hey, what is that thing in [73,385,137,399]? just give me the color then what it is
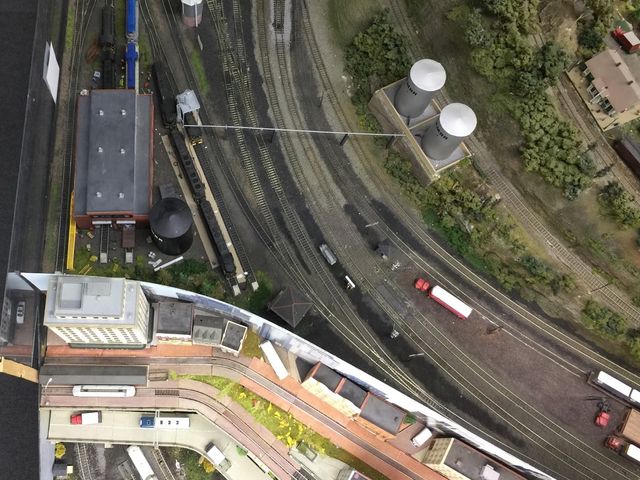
white train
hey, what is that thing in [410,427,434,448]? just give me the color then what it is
white vehicle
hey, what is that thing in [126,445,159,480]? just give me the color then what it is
white rail car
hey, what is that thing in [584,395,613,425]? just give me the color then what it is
red truck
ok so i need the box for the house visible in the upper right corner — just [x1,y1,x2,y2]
[580,53,640,118]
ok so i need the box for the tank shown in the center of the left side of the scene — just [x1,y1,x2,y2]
[148,201,194,256]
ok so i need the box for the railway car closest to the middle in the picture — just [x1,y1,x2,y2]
[317,242,339,268]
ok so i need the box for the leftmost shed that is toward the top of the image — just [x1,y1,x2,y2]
[75,86,154,235]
